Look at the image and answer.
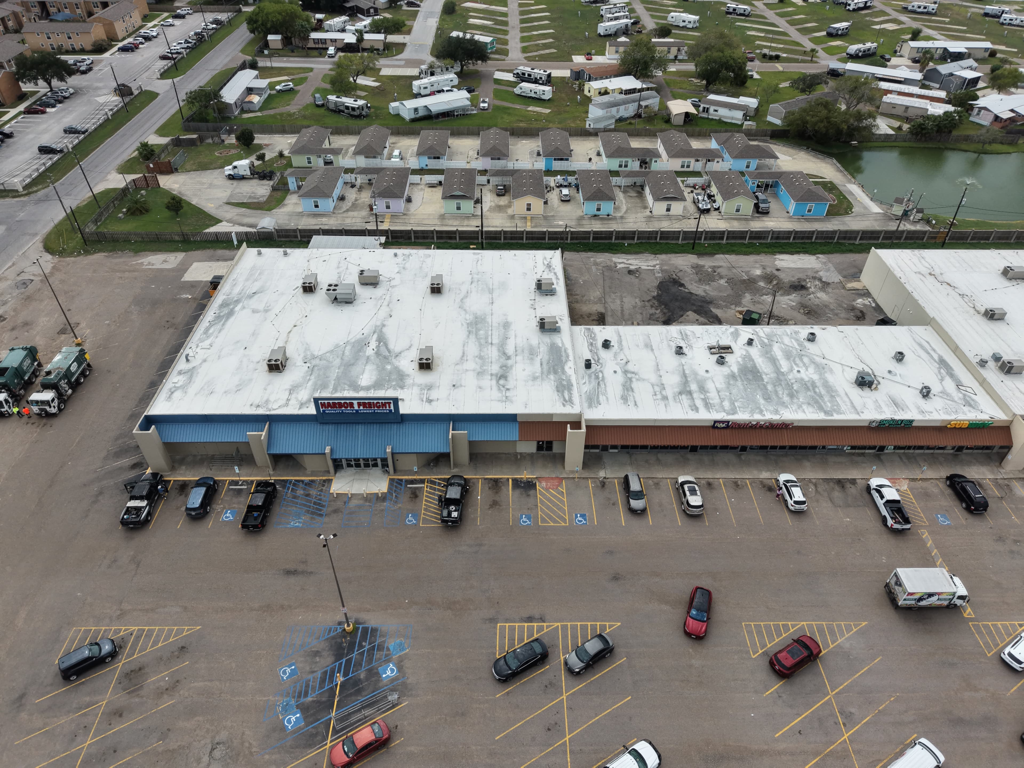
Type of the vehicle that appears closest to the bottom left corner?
automobile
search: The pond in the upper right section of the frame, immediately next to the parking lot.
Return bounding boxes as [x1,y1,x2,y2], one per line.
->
[839,147,1024,222]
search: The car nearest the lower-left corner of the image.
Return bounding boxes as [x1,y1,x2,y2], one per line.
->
[51,637,125,688]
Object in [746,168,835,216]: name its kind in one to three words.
house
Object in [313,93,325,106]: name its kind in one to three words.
vehicle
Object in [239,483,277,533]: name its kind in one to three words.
truck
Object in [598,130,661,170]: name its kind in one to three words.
house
